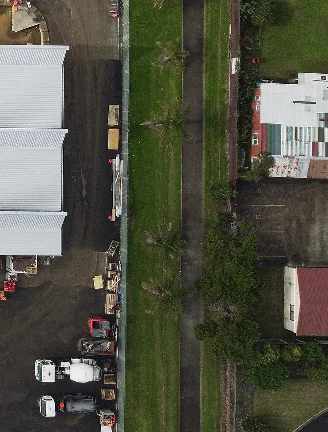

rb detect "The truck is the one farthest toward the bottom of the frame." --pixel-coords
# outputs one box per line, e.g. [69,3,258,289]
[38,392,100,421]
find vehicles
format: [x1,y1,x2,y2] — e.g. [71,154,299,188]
[33,357,106,386]
[38,392,100,421]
